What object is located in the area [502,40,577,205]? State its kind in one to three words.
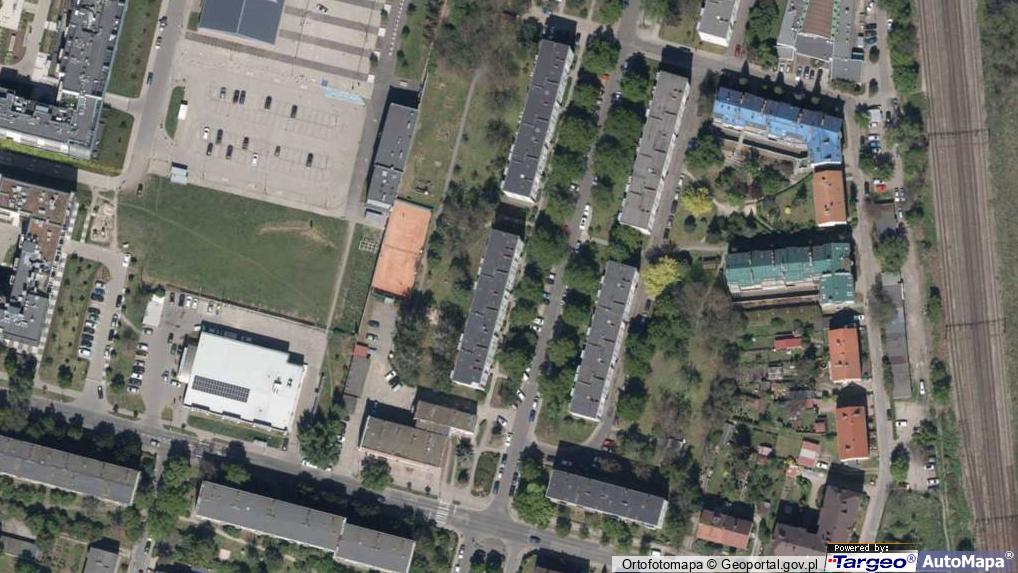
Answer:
building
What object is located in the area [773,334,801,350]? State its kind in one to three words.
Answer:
building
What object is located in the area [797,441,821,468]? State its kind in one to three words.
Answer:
shed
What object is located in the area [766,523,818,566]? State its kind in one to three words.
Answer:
house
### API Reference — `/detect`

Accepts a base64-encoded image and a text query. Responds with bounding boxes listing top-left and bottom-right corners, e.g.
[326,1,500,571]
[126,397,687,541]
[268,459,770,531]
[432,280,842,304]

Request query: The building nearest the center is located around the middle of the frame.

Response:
[451,228,526,390]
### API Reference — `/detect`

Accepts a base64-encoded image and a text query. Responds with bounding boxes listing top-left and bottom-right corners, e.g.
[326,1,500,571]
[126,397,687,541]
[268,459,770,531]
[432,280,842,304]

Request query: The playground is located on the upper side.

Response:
[88,196,114,246]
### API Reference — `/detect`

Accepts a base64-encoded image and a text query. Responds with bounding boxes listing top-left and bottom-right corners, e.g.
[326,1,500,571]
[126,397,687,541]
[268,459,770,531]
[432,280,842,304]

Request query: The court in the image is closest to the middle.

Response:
[373,199,431,296]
